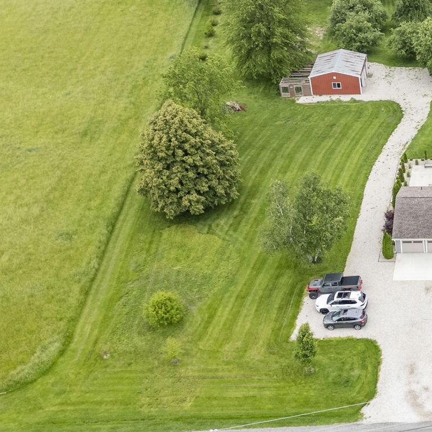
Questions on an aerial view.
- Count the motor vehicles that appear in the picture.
three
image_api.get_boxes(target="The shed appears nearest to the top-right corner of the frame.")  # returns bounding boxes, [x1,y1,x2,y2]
[308,47,370,94]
